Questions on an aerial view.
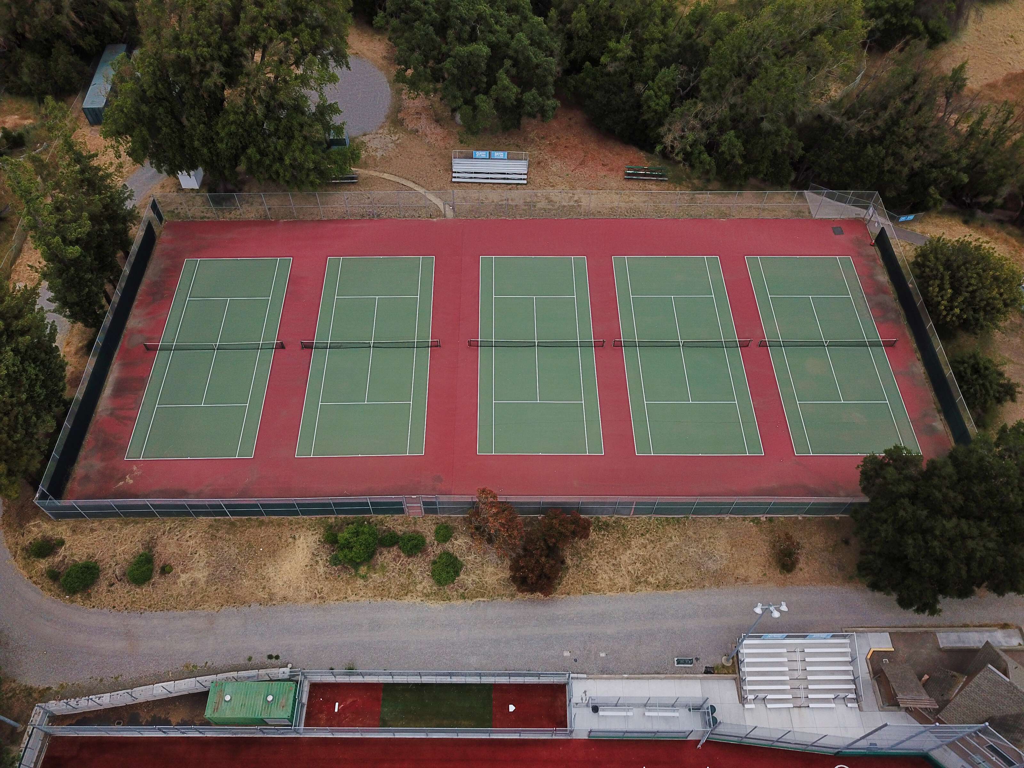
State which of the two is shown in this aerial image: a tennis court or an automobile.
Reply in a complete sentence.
The one in the frame is a tennis court.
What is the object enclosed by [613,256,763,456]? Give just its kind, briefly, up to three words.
tennis court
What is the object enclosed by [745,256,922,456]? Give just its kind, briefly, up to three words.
tennis court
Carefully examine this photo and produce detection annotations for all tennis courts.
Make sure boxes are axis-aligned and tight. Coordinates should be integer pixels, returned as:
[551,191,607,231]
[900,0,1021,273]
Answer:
[745,256,922,456]
[296,256,434,457]
[613,256,763,456]
[124,257,293,460]
[477,255,604,456]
